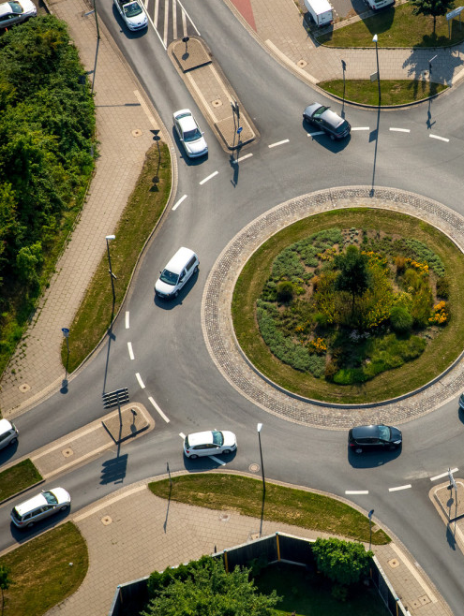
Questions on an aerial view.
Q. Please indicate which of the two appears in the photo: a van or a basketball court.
van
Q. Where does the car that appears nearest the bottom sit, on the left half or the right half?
left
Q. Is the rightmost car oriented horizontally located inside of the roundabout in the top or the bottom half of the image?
bottom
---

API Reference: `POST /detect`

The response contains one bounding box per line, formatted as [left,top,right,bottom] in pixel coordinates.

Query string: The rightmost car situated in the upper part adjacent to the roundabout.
[302,105,352,144]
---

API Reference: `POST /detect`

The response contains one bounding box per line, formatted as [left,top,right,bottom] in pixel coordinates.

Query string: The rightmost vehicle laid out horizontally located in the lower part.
[348,426,402,452]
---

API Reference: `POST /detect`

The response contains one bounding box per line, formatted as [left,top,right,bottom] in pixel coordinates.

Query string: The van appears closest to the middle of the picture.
[156,249,200,299]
